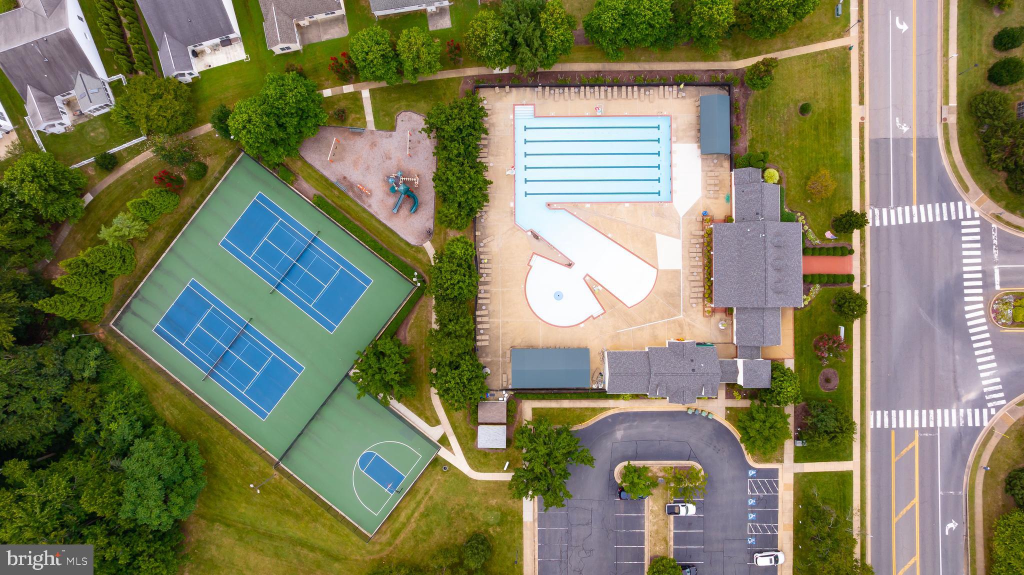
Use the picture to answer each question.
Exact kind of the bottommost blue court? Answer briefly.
basketball court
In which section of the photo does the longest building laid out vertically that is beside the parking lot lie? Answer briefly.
right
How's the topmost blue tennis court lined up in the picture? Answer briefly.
diagonally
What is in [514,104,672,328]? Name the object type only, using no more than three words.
swimming pool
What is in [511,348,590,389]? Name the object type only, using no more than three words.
building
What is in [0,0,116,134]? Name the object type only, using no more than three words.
house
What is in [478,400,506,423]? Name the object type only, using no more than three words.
shed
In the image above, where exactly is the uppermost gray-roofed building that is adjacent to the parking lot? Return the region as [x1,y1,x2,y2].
[709,168,803,360]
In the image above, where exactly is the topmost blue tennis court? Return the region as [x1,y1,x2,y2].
[220,192,373,331]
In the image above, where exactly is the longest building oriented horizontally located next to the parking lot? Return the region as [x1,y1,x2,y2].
[606,342,740,404]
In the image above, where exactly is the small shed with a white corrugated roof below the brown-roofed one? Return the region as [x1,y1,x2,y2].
[478,424,506,448]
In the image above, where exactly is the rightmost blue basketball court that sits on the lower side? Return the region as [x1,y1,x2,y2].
[353,441,422,515]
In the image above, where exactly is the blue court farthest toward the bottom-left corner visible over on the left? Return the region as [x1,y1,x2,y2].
[152,279,305,421]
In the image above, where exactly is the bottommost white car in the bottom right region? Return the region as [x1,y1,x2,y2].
[755,553,785,568]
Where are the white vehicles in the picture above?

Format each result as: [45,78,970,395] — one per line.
[666,503,697,519]
[755,553,785,568]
